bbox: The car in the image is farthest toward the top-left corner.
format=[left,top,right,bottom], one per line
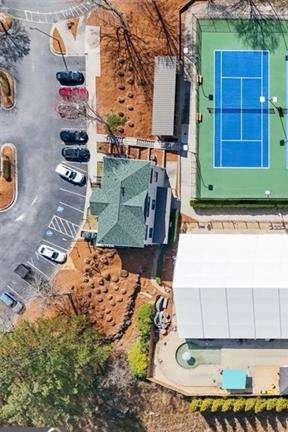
[55,69,80,81]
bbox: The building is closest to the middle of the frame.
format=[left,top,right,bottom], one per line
[91,156,174,247]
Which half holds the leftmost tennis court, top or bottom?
top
